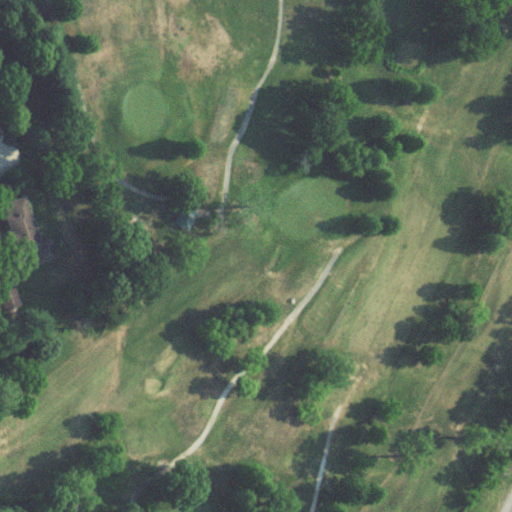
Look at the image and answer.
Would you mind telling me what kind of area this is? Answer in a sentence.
The area seen from above is a golf course.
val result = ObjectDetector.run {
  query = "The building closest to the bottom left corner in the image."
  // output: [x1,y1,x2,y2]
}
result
[1,286,22,314]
